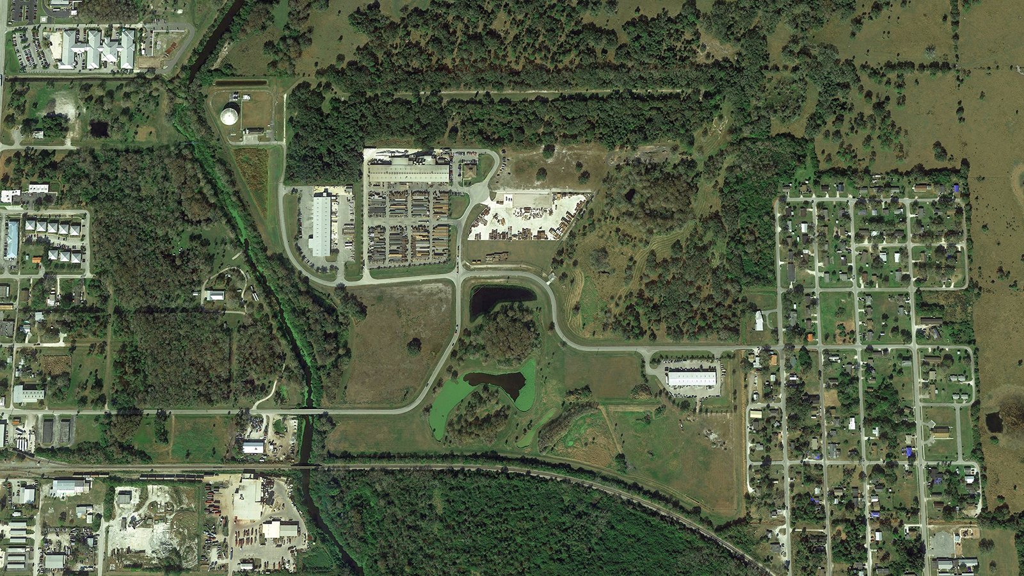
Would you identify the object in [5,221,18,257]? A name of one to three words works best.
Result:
building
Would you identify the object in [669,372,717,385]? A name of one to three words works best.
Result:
building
